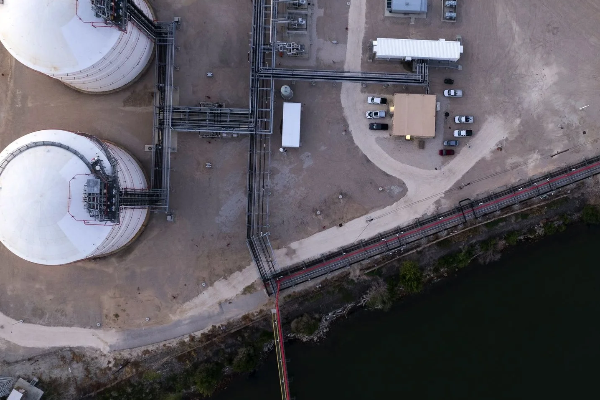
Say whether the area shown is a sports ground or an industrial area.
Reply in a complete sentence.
The area seen from above is an industrial area.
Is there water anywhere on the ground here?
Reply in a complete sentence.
Yes, some water is visible.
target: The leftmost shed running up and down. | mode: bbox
[282,102,303,148]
